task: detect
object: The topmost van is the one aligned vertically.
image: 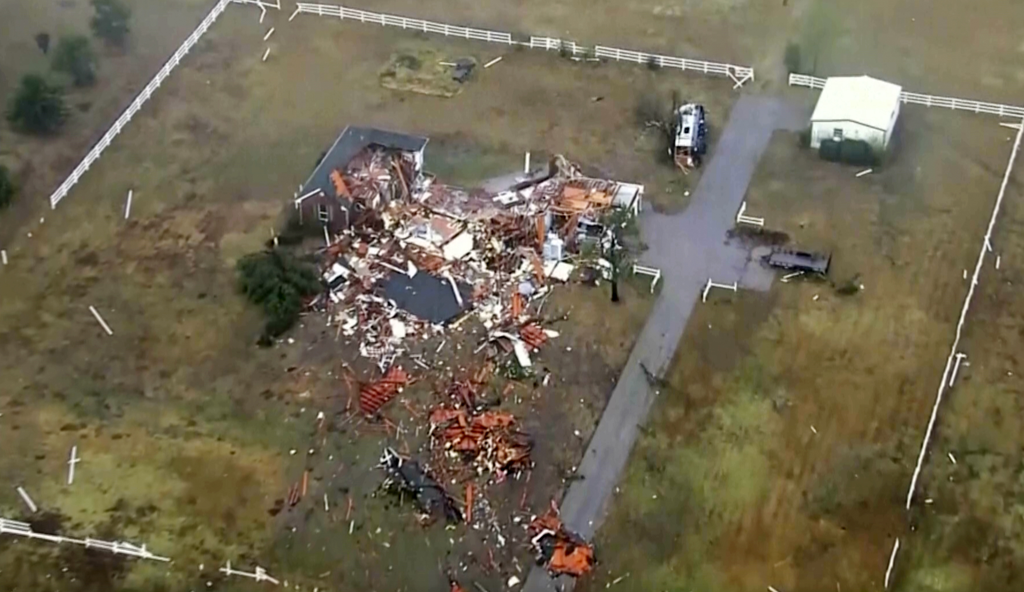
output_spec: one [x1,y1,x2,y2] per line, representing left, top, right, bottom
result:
[674,107,705,175]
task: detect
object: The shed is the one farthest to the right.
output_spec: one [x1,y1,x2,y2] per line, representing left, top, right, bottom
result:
[810,74,904,156]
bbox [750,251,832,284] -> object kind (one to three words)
trailer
